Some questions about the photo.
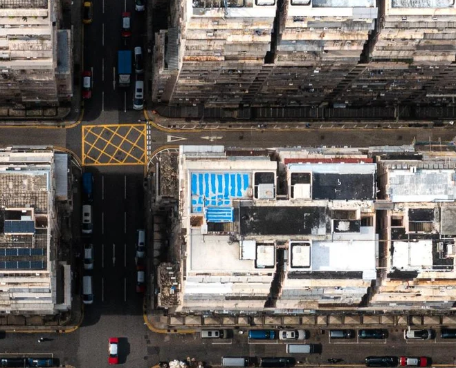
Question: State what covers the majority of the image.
buildings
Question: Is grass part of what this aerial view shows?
No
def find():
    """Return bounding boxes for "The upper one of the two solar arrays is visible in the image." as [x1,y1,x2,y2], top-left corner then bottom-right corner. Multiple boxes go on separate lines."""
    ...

[4,220,35,234]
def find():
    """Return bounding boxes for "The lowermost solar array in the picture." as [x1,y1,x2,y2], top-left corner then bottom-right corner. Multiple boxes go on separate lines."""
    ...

[0,248,43,268]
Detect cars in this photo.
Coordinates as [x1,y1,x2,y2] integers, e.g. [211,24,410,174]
[260,356,289,368]
[28,356,53,368]
[81,205,93,233]
[134,0,146,12]
[201,328,227,340]
[135,230,147,257]
[247,328,276,340]
[0,356,25,368]
[358,328,385,340]
[399,355,427,367]
[133,46,145,74]
[81,71,93,99]
[278,329,305,341]
[120,12,132,38]
[132,81,145,110]
[365,355,395,367]
[82,276,94,303]
[286,343,313,354]
[107,338,119,364]
[82,244,94,269]
[403,328,431,340]
[327,328,350,340]
[222,356,249,368]
[135,265,146,292]
[82,172,93,199]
